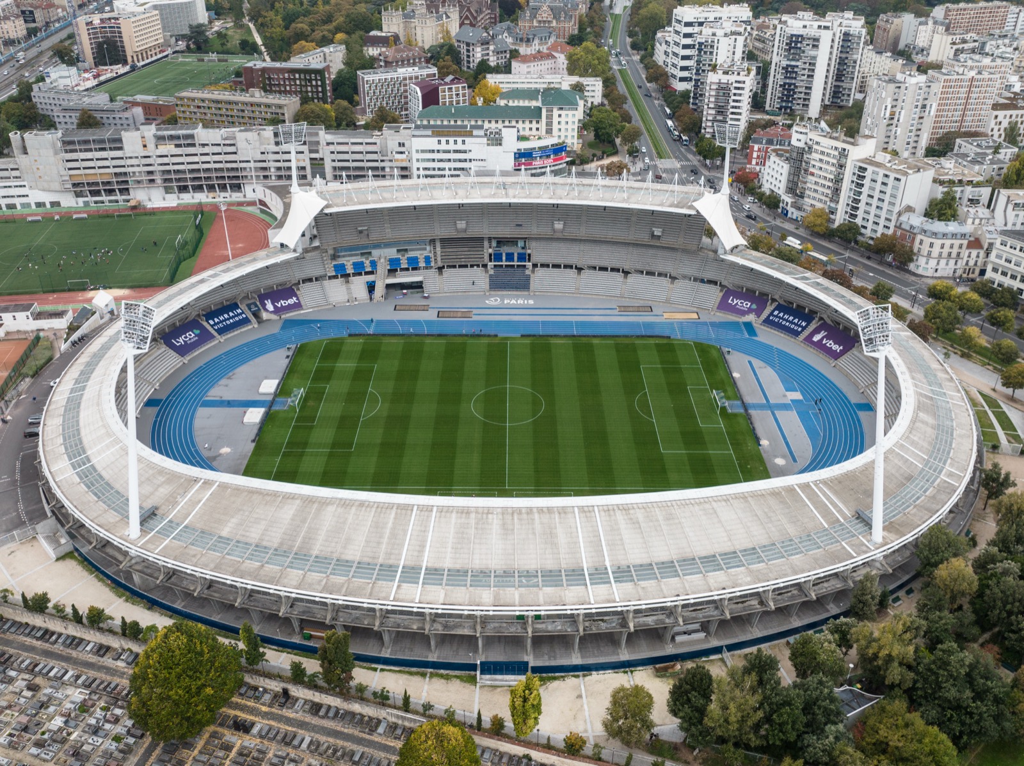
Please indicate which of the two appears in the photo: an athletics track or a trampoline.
athletics track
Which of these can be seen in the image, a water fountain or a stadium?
stadium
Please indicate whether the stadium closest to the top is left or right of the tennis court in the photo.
right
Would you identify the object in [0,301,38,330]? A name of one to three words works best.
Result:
building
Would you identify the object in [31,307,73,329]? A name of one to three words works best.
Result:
building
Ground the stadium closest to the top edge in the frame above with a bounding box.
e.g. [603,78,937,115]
[29,167,984,657]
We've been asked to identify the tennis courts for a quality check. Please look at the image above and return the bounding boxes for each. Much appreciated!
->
[0,339,31,382]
